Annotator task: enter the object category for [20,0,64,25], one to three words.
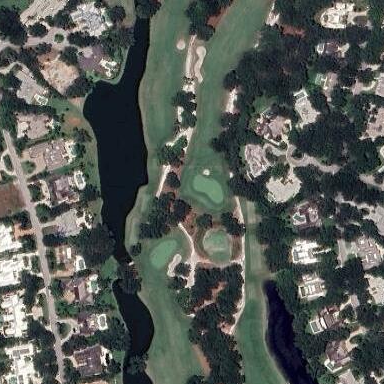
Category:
house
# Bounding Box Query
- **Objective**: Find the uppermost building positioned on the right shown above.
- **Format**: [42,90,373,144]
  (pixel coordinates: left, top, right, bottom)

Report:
[325,1,354,29]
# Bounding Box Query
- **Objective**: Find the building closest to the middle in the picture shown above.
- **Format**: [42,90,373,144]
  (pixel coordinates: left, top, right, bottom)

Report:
[239,139,271,176]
